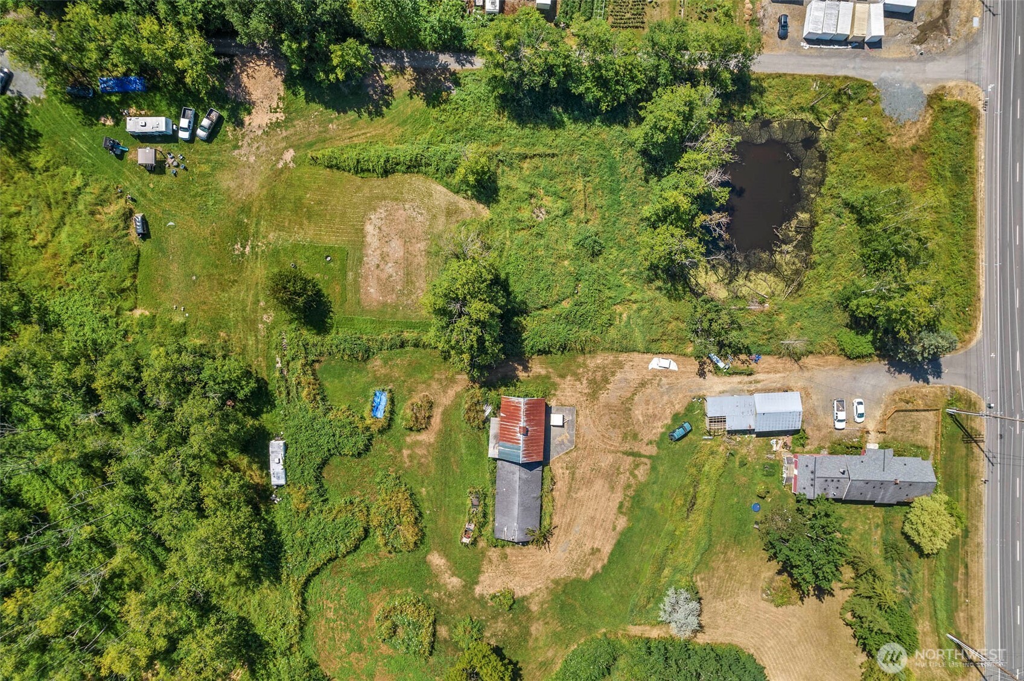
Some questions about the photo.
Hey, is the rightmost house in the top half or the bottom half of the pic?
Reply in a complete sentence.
The rightmost house is in the bottom half of the image.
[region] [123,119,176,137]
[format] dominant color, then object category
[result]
white trailer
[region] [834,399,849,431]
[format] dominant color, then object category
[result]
white vehicle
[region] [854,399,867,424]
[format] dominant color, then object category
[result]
white vehicle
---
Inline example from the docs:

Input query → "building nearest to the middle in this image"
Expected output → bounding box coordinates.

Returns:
[500,397,548,463]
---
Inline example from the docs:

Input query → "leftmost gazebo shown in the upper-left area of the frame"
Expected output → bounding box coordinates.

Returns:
[133,147,156,165]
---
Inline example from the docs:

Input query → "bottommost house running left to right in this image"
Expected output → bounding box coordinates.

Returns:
[791,443,941,505]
